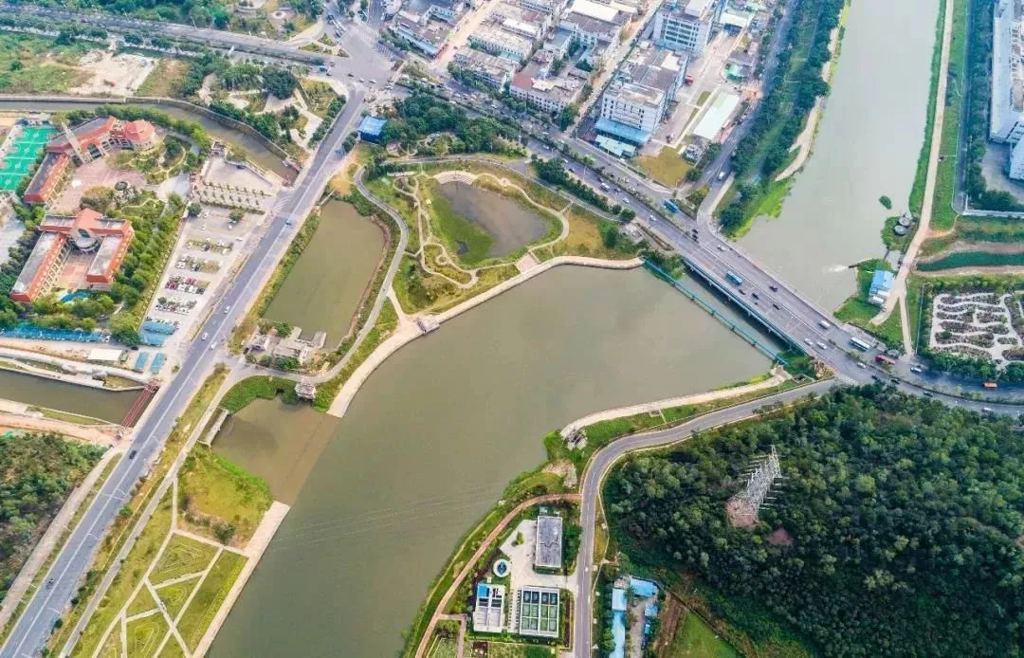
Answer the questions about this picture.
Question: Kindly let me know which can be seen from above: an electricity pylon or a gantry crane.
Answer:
electricity pylon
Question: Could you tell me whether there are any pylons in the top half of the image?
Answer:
No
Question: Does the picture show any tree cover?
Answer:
Yes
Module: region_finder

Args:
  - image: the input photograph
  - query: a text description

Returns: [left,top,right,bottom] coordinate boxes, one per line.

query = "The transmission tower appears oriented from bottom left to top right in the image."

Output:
[724,455,792,529]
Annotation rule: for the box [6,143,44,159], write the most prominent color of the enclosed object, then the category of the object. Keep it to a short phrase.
green basketball court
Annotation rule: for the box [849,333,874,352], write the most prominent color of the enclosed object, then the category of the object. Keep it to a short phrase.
white vehicle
